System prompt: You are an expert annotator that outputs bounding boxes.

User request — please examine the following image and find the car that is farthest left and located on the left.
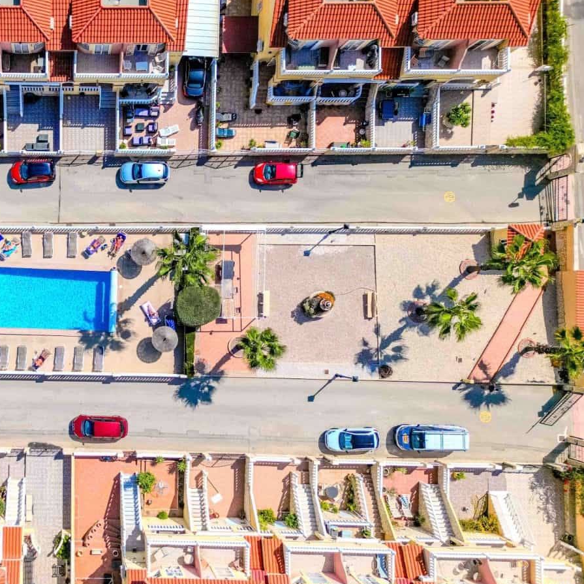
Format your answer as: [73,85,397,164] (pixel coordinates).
[9,158,56,184]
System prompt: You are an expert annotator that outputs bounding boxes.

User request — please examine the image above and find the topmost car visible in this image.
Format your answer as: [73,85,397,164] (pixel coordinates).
[179,56,208,111]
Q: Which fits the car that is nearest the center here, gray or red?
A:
red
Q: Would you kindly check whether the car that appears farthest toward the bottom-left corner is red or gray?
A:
red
